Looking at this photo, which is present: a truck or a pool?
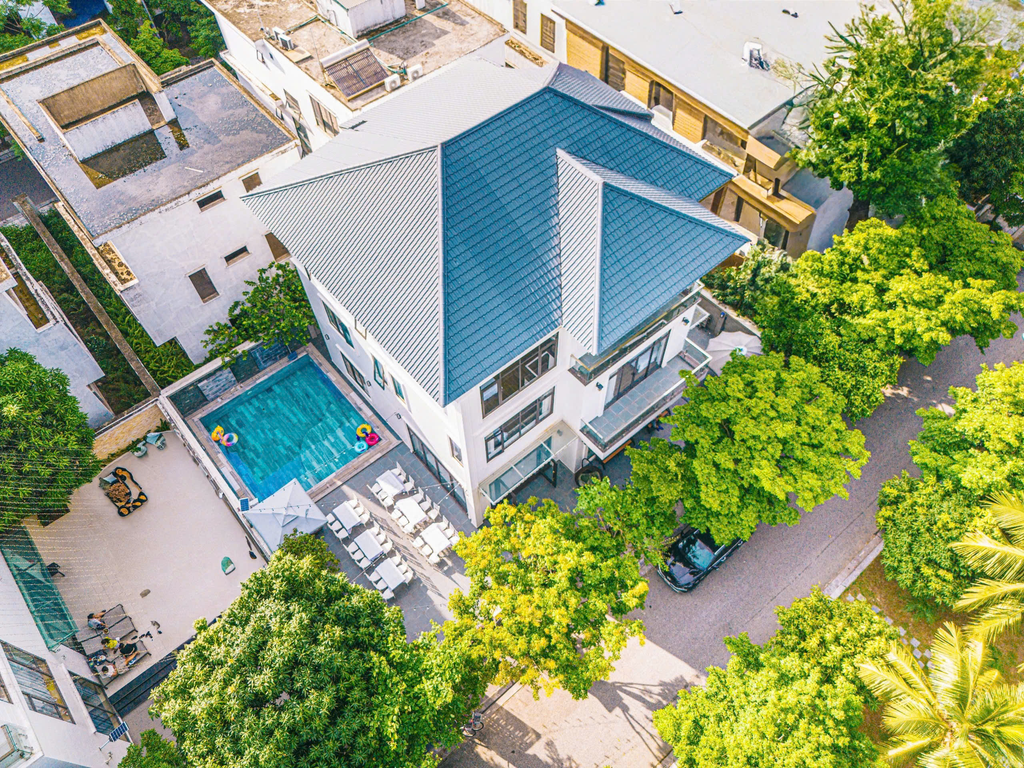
pool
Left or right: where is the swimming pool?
left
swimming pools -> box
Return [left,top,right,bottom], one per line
[185,344,402,507]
